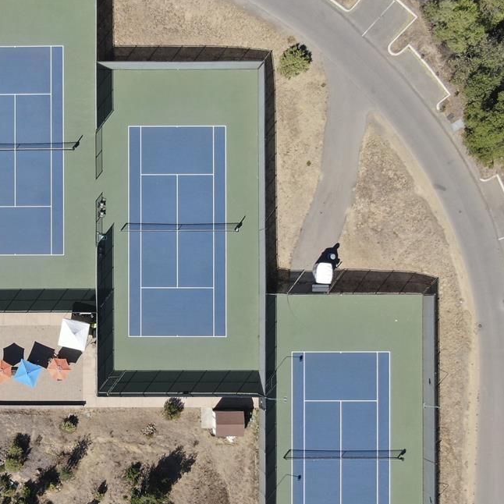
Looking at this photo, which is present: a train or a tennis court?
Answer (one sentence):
There is a tennis court in the scene.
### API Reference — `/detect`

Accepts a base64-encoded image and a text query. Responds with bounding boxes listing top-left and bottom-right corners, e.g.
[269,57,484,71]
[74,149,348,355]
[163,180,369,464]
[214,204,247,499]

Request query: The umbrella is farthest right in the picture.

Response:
[47,358,71,379]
